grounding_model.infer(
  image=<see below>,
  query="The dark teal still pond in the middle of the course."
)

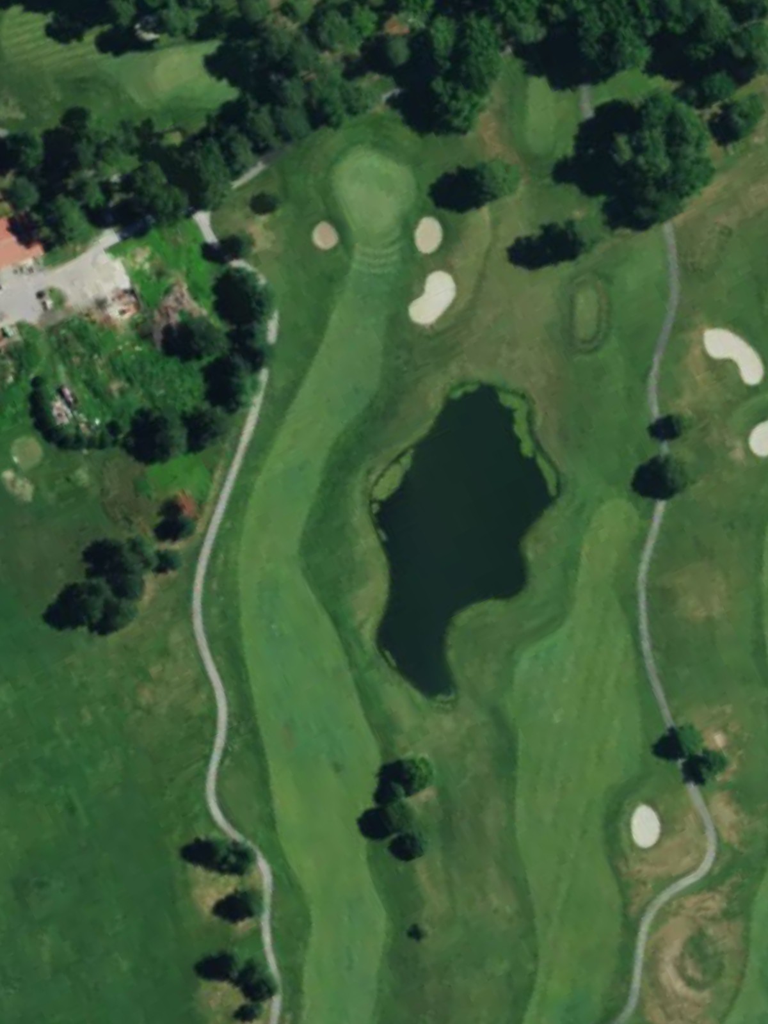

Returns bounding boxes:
[372,384,558,698]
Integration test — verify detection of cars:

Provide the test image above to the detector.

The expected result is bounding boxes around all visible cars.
[61,387,73,401]
[45,297,53,309]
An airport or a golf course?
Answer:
golf course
